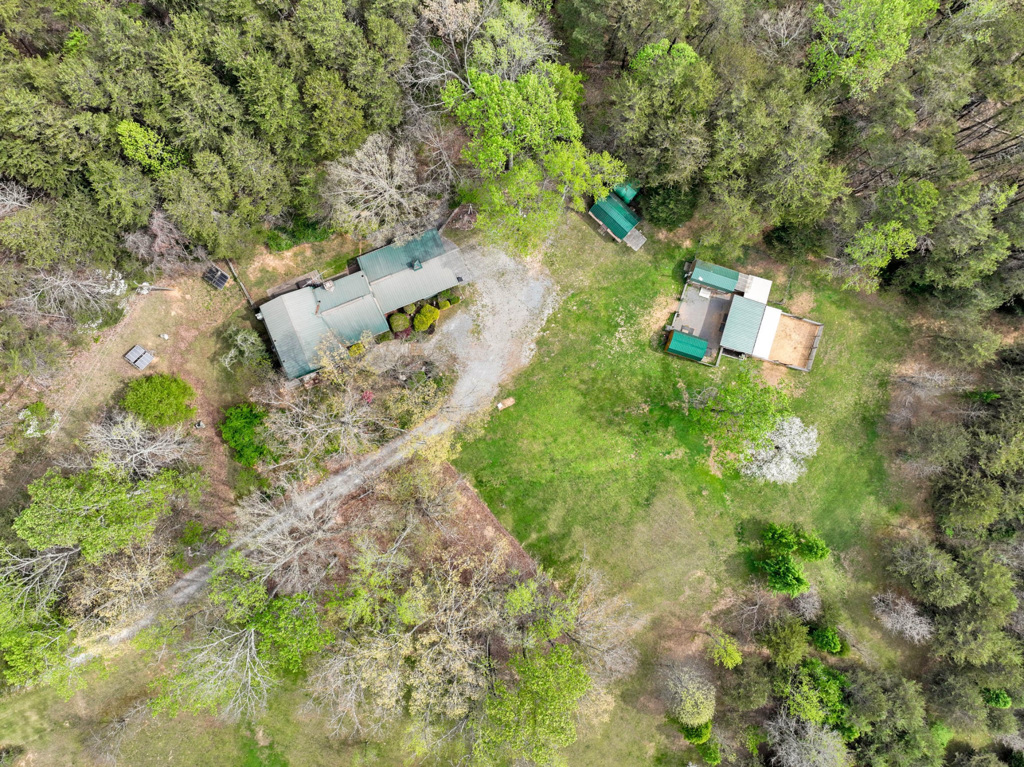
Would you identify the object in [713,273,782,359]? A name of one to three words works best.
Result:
barn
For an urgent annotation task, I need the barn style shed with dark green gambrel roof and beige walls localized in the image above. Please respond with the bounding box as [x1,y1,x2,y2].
[588,191,641,243]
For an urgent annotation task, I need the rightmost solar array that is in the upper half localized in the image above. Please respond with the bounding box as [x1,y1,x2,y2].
[204,264,230,289]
